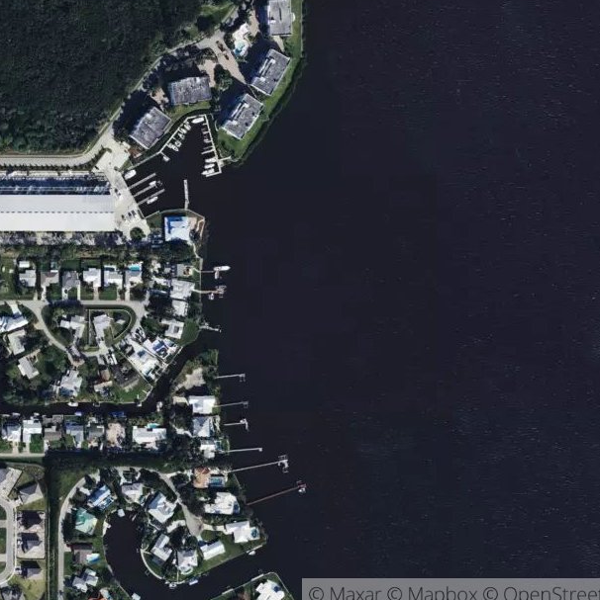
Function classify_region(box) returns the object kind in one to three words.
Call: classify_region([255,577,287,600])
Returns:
house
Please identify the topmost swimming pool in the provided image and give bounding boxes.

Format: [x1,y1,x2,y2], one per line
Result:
[232,38,248,55]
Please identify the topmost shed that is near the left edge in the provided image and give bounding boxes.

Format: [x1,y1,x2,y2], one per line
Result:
[0,193,115,231]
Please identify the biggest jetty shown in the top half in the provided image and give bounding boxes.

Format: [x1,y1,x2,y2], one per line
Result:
[128,114,223,178]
